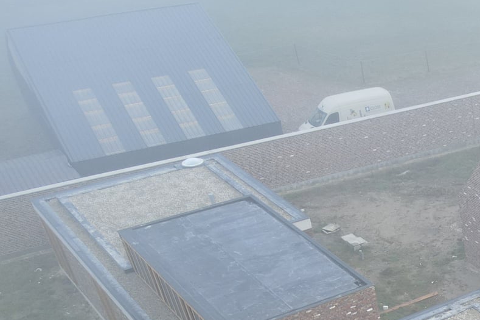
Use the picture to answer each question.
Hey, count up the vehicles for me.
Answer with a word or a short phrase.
1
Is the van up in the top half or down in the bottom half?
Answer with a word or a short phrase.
top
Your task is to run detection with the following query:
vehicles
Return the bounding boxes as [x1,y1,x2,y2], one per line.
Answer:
[297,89,394,132]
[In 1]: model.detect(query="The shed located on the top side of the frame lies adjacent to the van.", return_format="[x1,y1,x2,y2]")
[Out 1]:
[0,4,288,182]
